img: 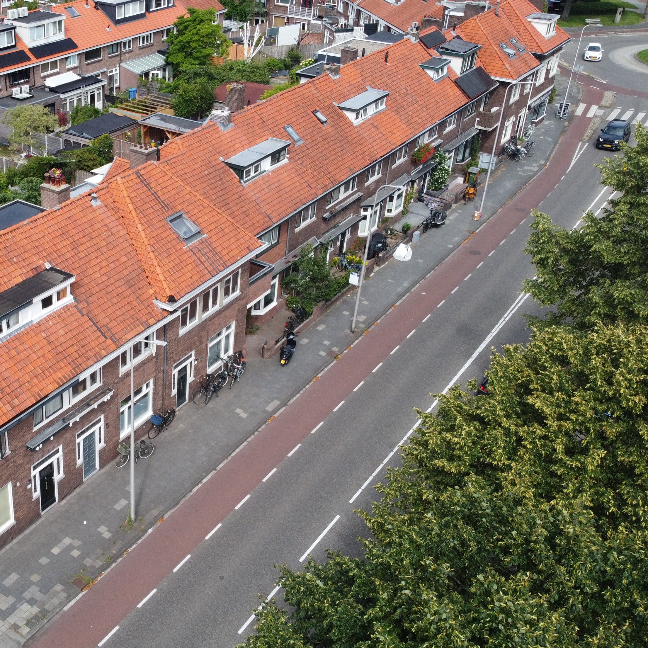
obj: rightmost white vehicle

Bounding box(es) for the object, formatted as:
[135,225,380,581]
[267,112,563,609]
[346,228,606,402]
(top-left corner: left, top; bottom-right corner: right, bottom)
[585,41,607,61]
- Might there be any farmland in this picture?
No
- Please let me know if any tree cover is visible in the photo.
Yes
